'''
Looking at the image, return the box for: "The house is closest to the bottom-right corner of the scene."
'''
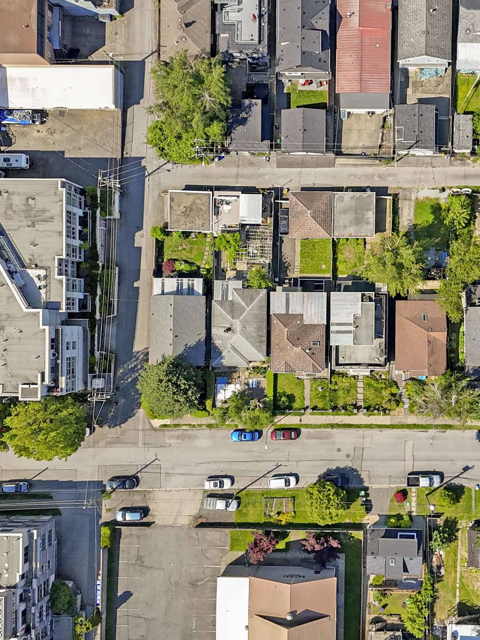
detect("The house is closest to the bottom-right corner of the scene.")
[445,603,480,640]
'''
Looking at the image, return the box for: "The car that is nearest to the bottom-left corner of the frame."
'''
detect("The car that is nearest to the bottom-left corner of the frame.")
[1,480,31,494]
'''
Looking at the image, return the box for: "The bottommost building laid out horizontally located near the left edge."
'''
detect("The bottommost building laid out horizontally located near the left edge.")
[0,65,123,117]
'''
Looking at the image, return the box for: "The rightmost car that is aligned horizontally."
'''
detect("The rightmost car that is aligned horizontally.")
[405,473,443,488]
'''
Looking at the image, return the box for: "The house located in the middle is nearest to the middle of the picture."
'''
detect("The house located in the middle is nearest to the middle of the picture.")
[211,281,267,367]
